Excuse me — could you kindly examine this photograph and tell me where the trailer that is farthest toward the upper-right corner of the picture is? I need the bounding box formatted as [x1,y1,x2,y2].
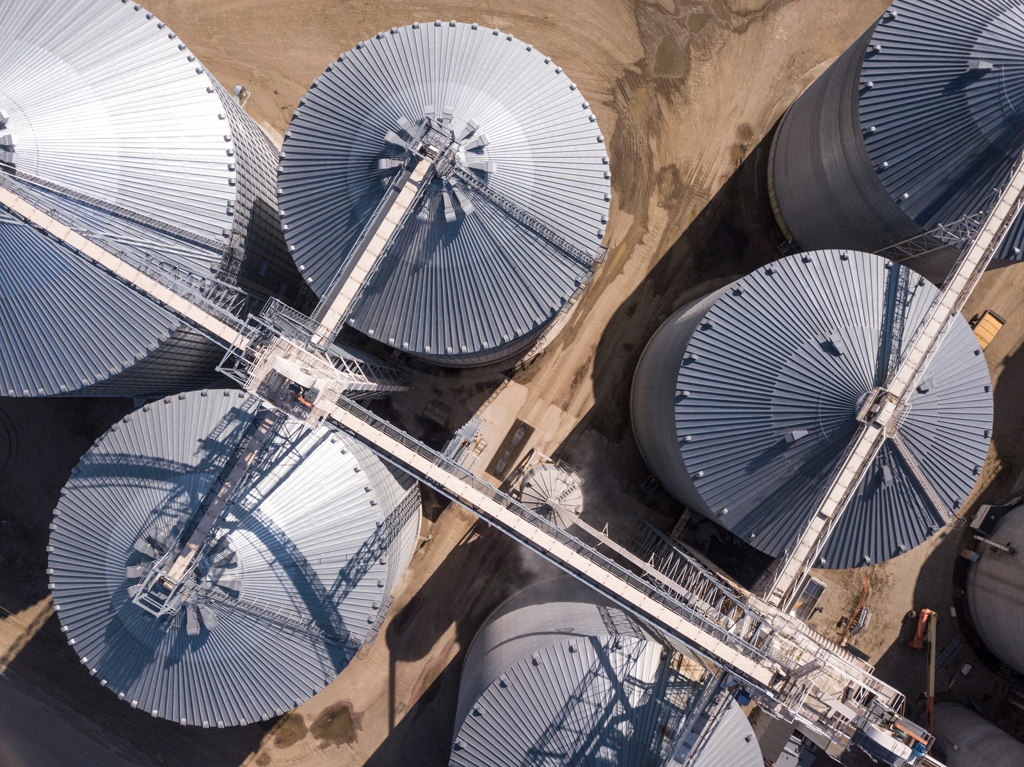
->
[968,310,1006,353]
